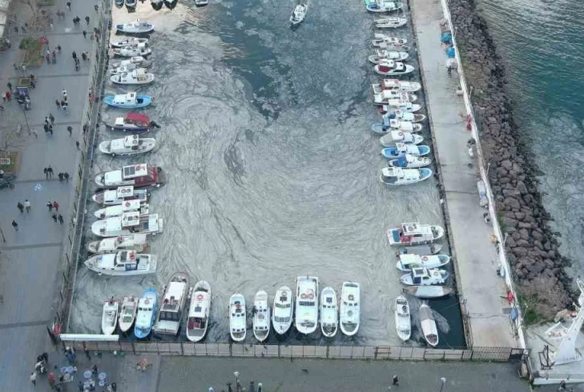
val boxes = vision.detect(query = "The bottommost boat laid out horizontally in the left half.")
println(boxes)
[82,248,159,281]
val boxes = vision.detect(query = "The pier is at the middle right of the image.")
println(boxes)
[405,0,521,356]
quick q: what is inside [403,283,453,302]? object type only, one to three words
boat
